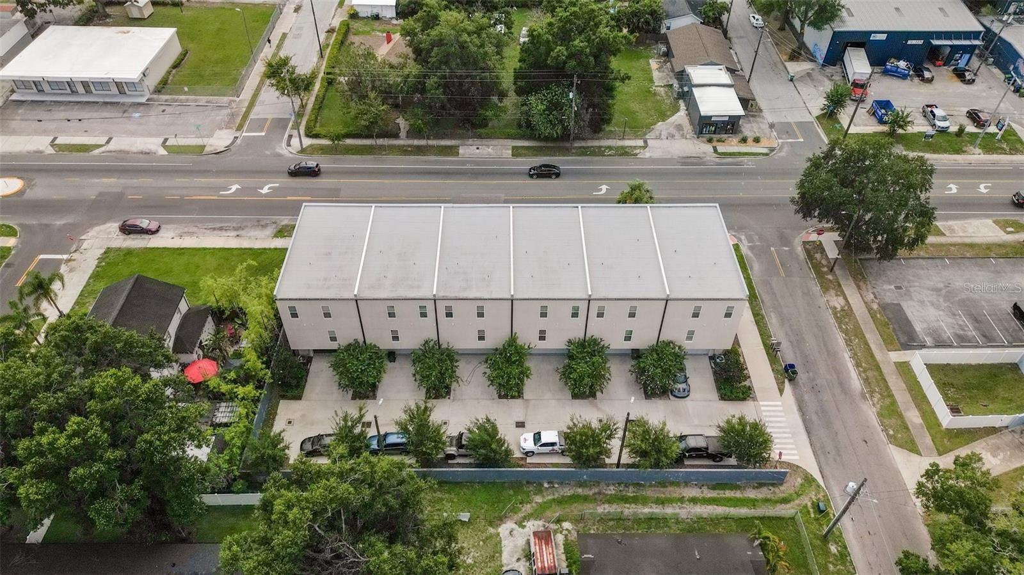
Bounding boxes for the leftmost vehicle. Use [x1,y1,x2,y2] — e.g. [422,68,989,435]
[117,217,162,234]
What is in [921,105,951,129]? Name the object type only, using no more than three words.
truck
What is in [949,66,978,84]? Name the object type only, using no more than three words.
car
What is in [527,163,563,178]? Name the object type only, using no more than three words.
car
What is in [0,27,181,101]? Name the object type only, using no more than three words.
building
